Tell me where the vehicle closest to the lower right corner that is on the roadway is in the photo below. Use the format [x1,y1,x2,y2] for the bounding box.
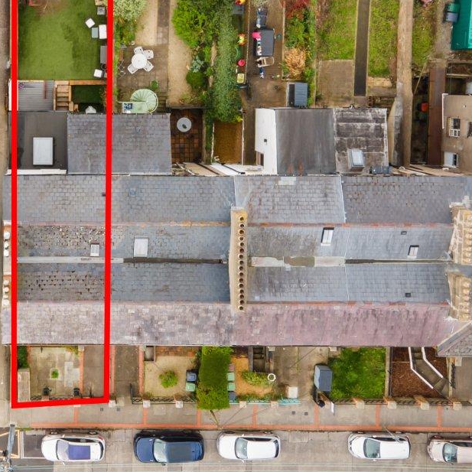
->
[425,433,472,467]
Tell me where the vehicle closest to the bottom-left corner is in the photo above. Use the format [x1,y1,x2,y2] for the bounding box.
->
[43,431,106,466]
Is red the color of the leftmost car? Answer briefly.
No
